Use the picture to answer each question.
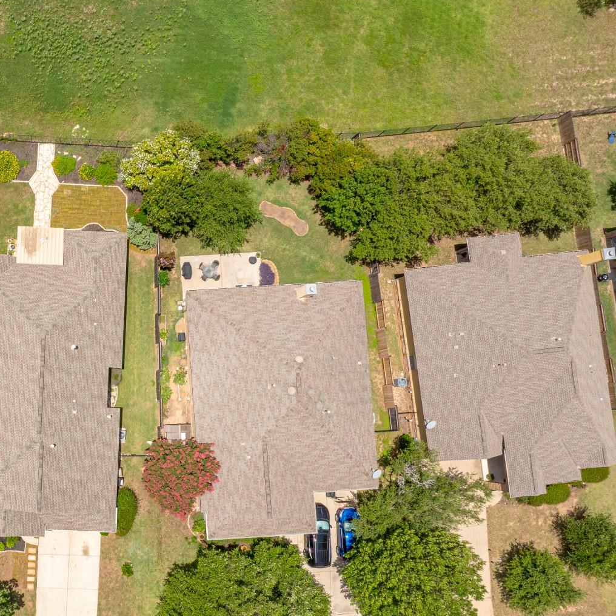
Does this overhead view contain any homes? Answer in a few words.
Yes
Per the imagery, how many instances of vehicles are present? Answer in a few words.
2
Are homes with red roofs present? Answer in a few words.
No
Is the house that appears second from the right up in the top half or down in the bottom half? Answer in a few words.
bottom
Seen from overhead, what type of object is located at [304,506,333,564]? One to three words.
car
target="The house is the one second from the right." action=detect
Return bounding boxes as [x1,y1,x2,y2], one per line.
[184,278,379,540]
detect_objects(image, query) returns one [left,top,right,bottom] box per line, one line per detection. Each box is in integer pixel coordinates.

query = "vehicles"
[339,506,367,562]
[304,506,333,564]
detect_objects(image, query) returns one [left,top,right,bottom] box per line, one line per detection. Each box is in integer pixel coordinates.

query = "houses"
[393,231,616,498]
[184,278,379,540]
[0,229,128,538]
